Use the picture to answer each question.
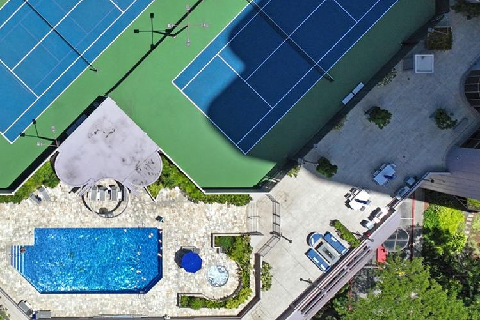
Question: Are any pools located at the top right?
No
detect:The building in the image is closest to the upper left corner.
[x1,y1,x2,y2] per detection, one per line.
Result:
[54,96,162,199]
